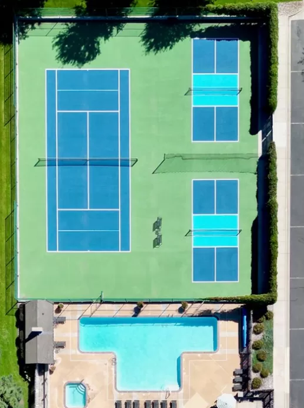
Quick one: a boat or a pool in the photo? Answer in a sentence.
Of the two, only a pool appears.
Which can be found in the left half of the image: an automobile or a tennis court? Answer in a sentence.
The feature located in the left half of the image is a tennis court.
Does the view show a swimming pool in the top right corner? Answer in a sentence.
No, no swimming pool can be made out in the top right corner.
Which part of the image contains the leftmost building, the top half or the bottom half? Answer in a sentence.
The leftmost building sits in the bottom half of the picture.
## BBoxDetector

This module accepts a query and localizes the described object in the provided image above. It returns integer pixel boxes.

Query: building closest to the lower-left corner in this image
[25,300,54,363]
